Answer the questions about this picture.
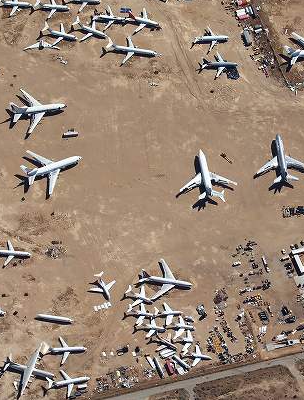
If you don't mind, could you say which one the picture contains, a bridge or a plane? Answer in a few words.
plane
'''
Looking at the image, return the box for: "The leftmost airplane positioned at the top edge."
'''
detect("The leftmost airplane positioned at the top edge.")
[0,0,31,16]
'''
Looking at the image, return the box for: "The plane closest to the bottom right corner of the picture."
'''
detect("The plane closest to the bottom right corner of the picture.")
[181,346,211,368]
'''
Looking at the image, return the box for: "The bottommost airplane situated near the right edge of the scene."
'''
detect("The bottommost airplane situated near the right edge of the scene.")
[255,134,304,183]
